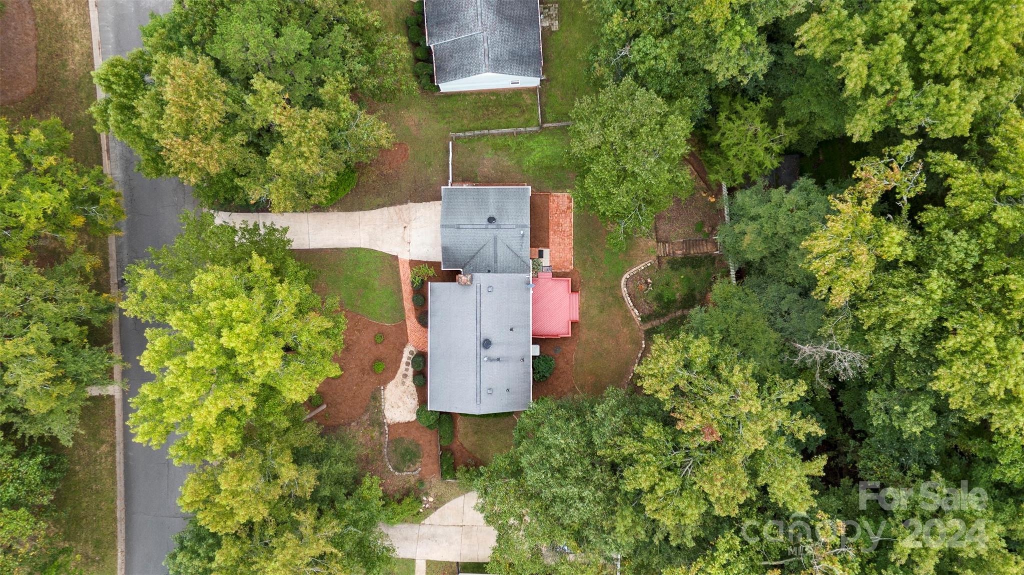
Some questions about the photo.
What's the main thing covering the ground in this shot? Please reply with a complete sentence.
The bulk of the photo consists of trees.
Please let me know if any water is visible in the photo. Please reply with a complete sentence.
No, there is no water in the image.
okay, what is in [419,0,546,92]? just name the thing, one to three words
house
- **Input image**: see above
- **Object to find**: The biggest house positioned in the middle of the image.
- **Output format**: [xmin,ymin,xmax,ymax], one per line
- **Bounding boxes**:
[427,185,536,415]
